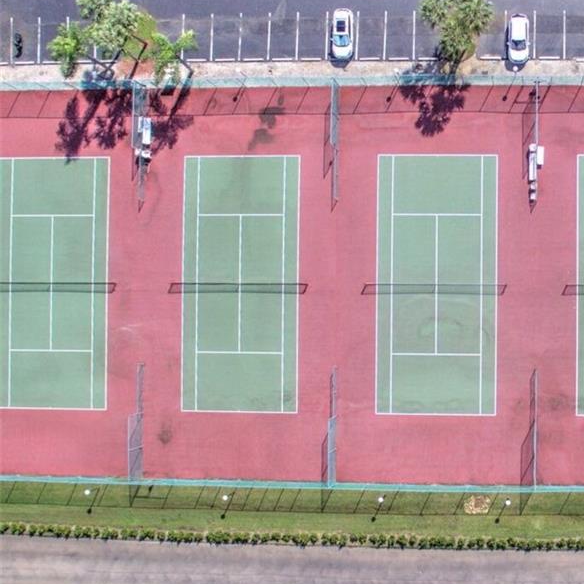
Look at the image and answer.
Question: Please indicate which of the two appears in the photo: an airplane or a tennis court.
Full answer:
The one in the frame is a tennis court.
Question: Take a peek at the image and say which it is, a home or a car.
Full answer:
Looking from above, you can make out a car.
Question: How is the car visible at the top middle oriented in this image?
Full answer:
The car visible at the top middle has been laid out vertically relative to the frame.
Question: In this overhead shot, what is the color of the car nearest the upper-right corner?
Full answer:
The color of the car nearest the upper-right corner is white.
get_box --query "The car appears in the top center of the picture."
[329,10,354,61]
